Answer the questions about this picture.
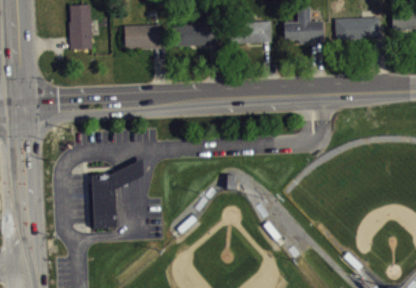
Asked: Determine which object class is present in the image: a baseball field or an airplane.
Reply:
baseball field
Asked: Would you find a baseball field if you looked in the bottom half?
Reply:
Yes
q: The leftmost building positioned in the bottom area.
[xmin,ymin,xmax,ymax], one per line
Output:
[92,158,144,233]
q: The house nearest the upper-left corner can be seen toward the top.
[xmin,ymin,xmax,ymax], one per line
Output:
[70,5,92,52]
